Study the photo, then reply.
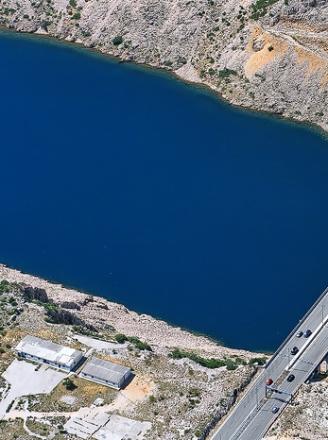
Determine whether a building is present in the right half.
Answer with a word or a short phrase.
No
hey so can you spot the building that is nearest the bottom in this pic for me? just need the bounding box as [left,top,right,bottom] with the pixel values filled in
[79,356,132,389]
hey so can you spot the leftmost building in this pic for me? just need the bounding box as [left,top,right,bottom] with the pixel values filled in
[13,335,84,373]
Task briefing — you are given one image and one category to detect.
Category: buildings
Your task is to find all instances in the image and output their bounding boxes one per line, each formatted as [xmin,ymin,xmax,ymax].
[79,356,132,389]
[13,335,84,373]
